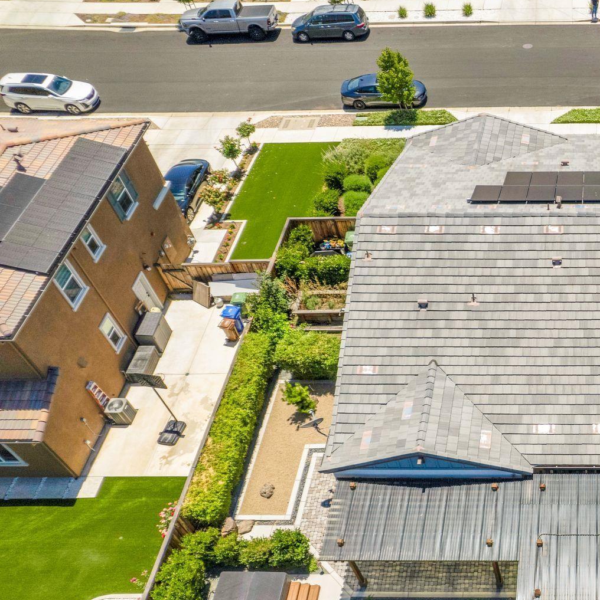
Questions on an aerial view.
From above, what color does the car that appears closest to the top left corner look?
white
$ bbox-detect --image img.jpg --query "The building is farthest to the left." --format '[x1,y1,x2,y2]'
[0,116,193,477]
